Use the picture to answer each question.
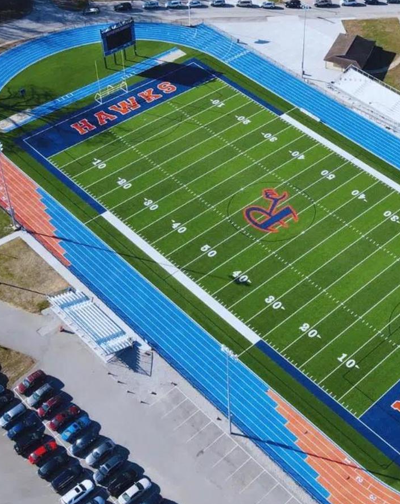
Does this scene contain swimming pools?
No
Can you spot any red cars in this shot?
Yes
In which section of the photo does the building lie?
top right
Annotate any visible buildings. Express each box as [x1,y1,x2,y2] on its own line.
[324,29,375,72]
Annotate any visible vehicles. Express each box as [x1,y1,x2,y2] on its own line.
[0,396,30,425]
[61,479,95,504]
[209,0,227,6]
[35,449,73,481]
[85,493,108,504]
[6,412,41,439]
[114,1,132,10]
[165,0,182,7]
[285,0,302,7]
[48,405,81,432]
[96,451,128,481]
[16,424,46,452]
[35,392,66,420]
[189,0,205,7]
[60,414,93,442]
[316,0,333,5]
[26,379,57,407]
[69,428,102,457]
[86,440,115,465]
[135,486,169,504]
[260,1,277,9]
[0,391,16,409]
[26,438,60,467]
[50,461,85,493]
[235,0,253,6]
[142,0,159,9]
[16,369,47,393]
[118,477,151,504]
[340,0,357,5]
[107,465,140,497]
